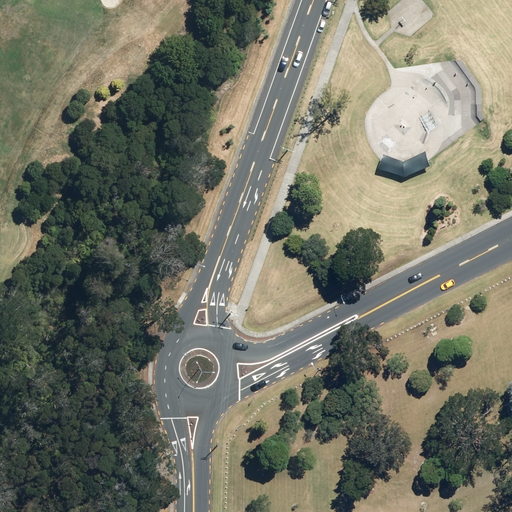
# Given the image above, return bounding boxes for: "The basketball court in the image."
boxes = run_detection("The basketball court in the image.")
[388,0,433,36]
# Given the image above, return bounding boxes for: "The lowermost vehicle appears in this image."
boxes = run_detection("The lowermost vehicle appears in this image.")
[251,379,266,391]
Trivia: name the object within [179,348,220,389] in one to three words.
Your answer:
roundabout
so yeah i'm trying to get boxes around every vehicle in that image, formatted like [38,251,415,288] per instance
[322,0,332,17]
[251,379,266,391]
[232,343,248,350]
[278,54,288,71]
[440,279,456,290]
[293,50,304,67]
[317,18,326,34]
[408,272,422,284]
